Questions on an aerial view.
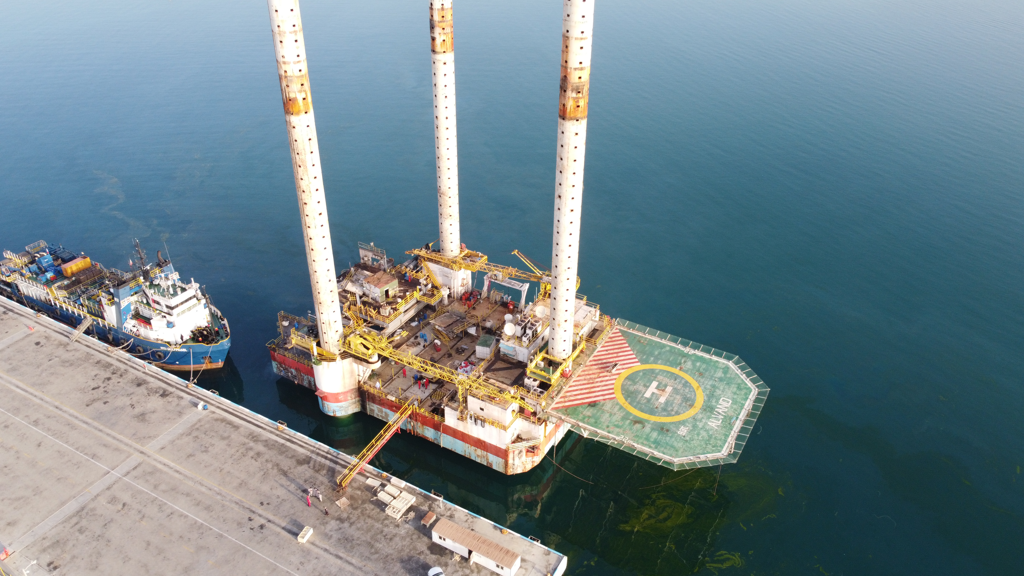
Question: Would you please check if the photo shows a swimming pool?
No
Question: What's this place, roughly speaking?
port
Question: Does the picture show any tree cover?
No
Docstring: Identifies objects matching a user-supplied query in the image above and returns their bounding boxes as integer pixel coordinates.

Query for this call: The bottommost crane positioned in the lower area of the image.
[341,315,537,433]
